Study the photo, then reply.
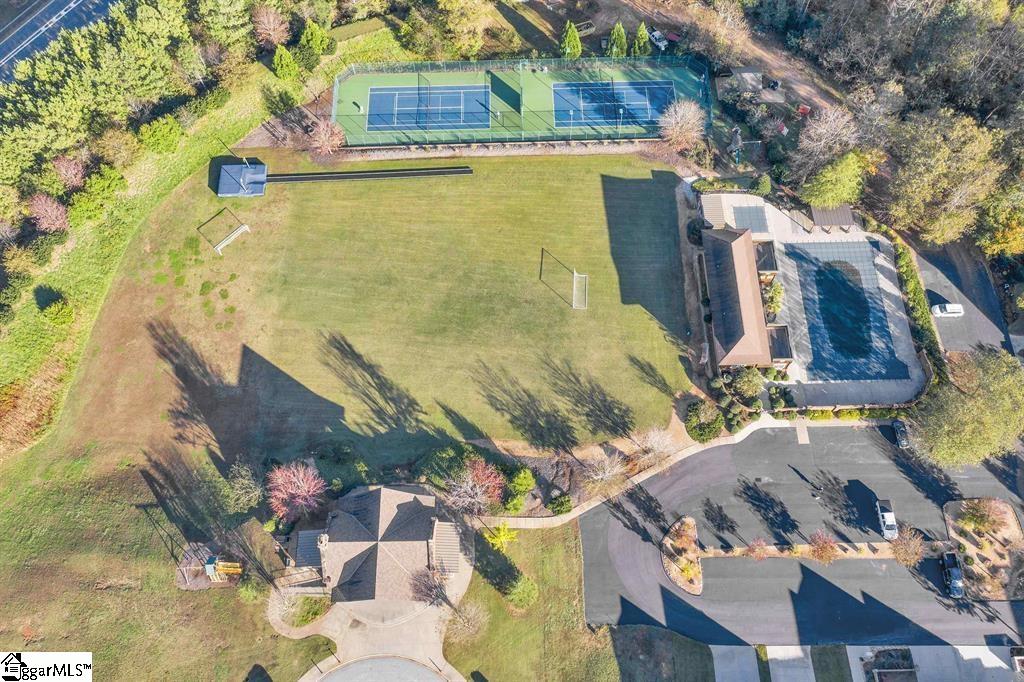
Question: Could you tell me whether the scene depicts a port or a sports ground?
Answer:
sports ground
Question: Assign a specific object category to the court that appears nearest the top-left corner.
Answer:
tennis court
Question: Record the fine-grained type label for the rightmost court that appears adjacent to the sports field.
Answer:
tennis court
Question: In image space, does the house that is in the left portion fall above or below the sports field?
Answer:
below it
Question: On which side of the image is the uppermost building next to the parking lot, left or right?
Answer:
right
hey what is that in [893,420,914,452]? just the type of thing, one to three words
car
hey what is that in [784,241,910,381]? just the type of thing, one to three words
swimming pool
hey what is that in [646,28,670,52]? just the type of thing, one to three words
truck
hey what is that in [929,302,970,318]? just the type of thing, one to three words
car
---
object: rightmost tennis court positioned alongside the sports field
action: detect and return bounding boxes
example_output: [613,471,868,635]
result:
[522,67,712,141]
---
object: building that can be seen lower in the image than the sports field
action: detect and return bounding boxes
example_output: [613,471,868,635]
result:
[288,483,461,607]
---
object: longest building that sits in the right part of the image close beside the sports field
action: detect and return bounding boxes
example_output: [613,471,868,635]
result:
[698,196,793,370]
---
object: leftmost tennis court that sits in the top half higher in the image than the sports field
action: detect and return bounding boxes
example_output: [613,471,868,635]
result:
[332,71,522,147]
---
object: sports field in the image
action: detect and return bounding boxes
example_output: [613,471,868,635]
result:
[62,148,691,448]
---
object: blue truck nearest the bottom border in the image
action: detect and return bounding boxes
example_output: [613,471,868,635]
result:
[943,554,968,600]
